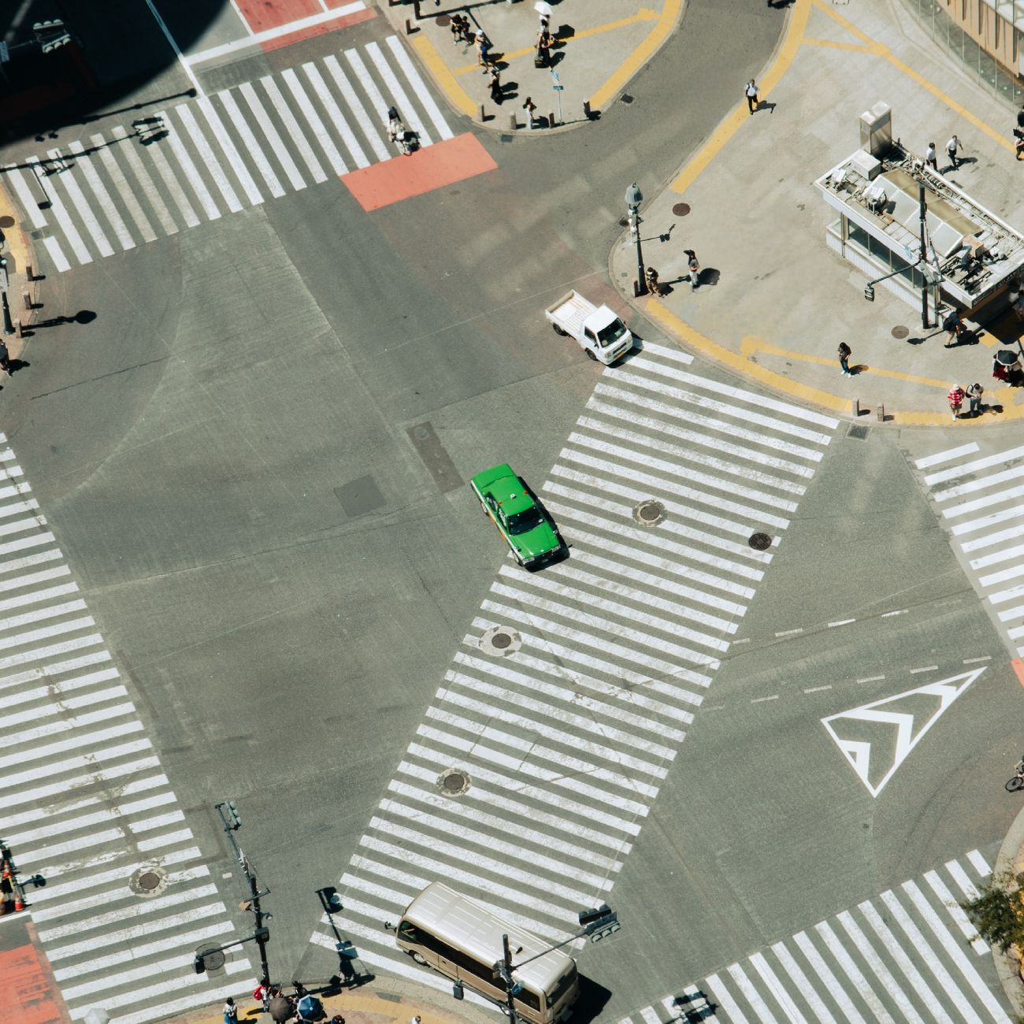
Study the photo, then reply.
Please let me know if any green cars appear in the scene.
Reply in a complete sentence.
Yes, the image includes a green car.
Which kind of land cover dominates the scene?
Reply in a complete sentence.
For the most part, this view shows paved ground.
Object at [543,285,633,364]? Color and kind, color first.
white truck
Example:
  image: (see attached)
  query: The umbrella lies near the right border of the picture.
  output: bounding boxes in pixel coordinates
[992,350,1016,373]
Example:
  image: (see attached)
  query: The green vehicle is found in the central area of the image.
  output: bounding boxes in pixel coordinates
[469,464,564,570]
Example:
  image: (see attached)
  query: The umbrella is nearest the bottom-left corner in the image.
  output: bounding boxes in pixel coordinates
[84,1003,110,1024]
